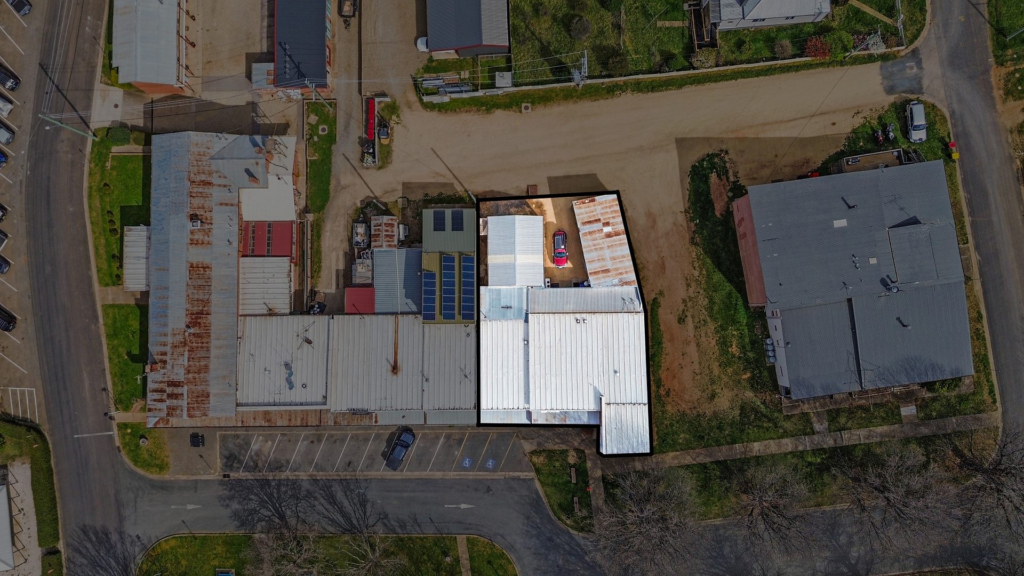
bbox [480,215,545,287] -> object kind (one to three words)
shed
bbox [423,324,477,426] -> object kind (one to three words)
building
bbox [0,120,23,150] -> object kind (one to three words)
car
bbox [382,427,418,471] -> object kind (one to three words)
truck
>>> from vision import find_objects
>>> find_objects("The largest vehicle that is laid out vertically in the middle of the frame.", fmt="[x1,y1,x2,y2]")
[551,229,570,270]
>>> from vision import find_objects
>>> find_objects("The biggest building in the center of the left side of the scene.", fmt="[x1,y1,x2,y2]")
[146,132,304,427]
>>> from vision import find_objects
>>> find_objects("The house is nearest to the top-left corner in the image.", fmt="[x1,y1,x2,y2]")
[111,0,195,94]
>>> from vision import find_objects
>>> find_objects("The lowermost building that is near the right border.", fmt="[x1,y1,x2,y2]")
[721,159,975,401]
